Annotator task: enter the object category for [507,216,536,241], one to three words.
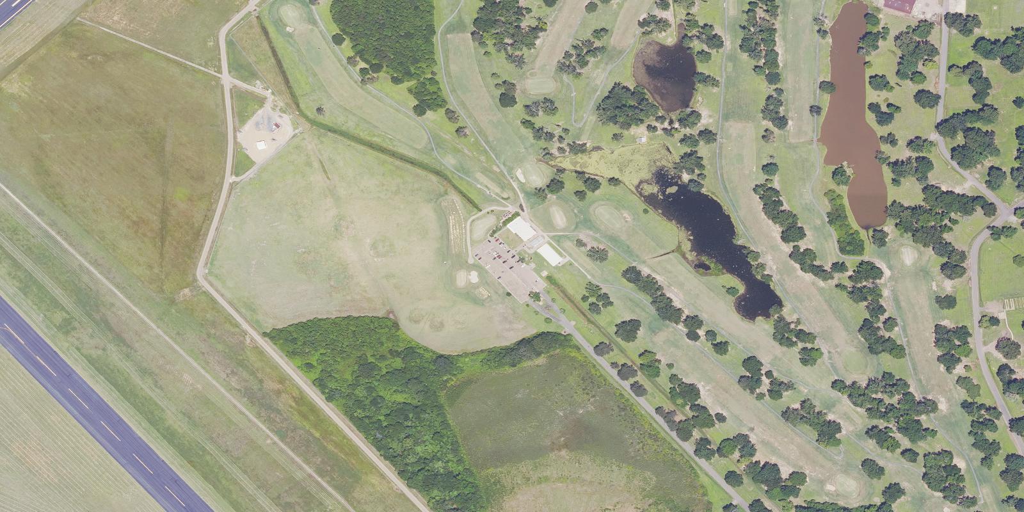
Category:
building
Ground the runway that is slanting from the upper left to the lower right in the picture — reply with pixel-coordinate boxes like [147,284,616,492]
[0,296,213,512]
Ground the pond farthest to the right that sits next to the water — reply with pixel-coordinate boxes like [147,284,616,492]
[817,1,888,230]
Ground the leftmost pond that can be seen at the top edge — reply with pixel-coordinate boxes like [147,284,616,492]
[633,23,697,112]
